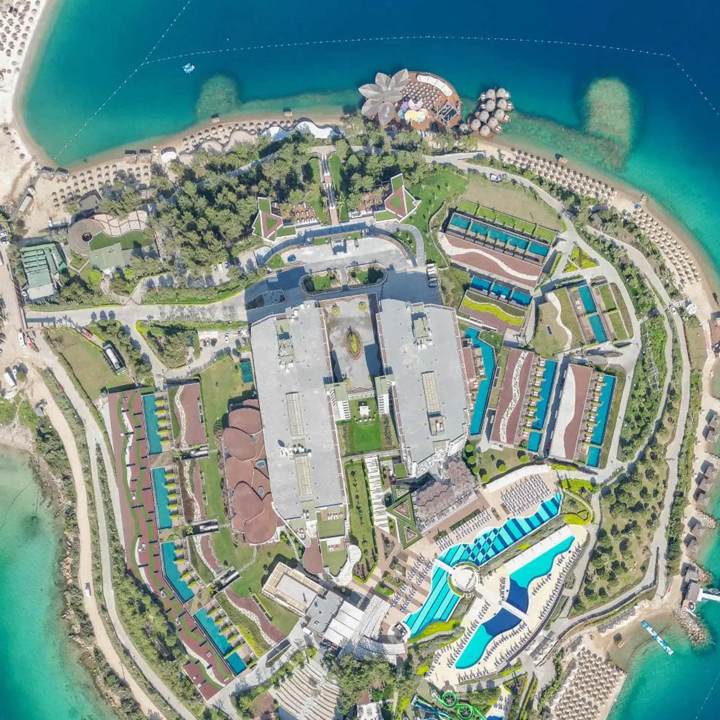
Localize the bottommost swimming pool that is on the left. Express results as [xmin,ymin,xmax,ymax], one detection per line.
[227,652,246,673]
